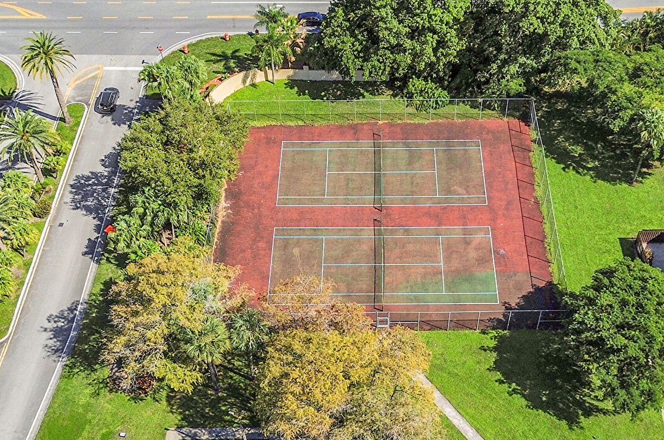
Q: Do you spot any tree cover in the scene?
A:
Yes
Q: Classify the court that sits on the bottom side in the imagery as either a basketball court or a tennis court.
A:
tennis court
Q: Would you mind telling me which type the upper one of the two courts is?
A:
tennis court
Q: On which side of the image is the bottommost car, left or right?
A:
left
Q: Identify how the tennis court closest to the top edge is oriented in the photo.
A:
from side to side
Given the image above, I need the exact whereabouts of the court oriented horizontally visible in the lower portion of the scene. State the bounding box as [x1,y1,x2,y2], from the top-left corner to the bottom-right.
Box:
[269,227,498,304]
